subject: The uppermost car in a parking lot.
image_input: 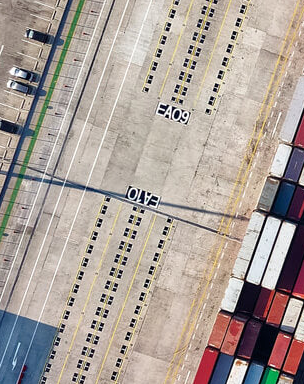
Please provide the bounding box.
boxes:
[25,28,50,44]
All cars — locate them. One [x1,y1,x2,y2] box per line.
[25,28,50,44]
[10,66,34,82]
[7,79,31,95]
[0,119,18,134]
